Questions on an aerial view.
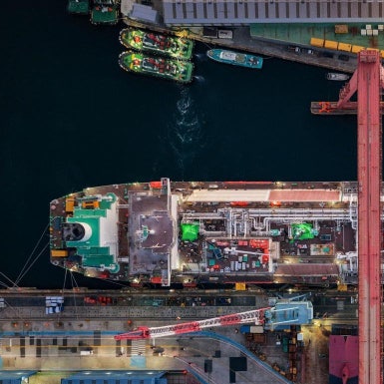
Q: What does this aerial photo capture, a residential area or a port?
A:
port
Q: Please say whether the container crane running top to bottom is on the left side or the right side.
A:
right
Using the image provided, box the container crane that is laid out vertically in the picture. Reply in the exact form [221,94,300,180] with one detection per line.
[318,49,384,384]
